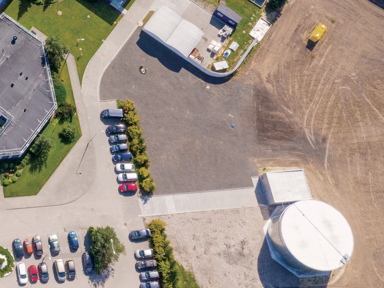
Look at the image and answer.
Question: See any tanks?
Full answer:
Yes, there is a tank in the image.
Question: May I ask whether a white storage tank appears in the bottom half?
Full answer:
Yes, I can see a white storage tank in the bottom half.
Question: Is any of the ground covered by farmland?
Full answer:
Yes, there's farmland in this view.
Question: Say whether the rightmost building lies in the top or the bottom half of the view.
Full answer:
The bottom half of the photo is where the rightmost building is.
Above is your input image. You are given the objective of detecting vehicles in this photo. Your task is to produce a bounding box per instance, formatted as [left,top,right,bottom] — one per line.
[129,229,152,240]
[112,153,133,162]
[115,163,135,173]
[106,125,127,134]
[101,109,126,119]
[139,281,161,288]
[24,239,33,255]
[13,239,23,258]
[139,271,160,281]
[16,263,27,285]
[118,174,138,183]
[29,265,38,282]
[135,249,155,258]
[49,235,61,254]
[65,261,75,280]
[109,135,128,144]
[54,259,66,281]
[69,232,79,249]
[110,144,129,153]
[38,263,49,282]
[119,183,138,192]
[135,259,157,270]
[32,235,43,256]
